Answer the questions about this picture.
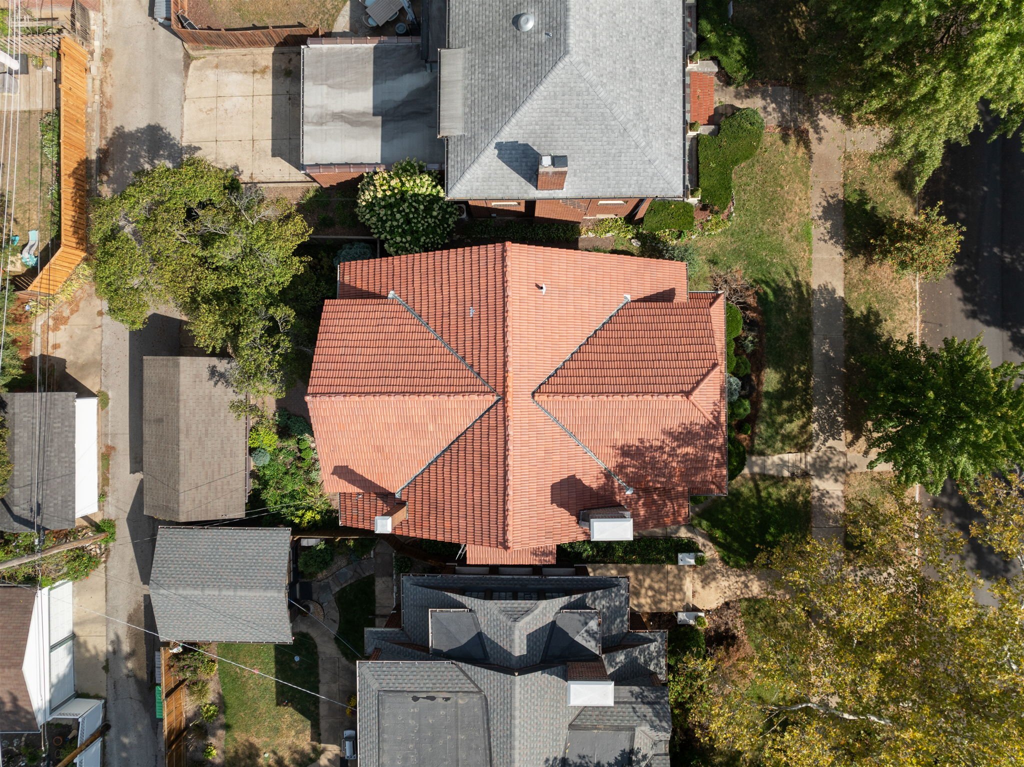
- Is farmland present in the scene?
No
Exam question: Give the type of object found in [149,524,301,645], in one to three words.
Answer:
building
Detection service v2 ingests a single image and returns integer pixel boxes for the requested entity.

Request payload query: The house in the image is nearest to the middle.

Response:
[303,240,727,565]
